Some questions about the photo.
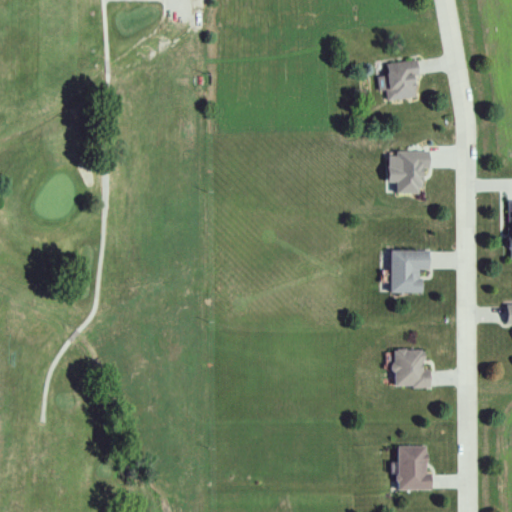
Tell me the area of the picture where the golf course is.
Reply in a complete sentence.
You can find the golf course in the left area of the picture.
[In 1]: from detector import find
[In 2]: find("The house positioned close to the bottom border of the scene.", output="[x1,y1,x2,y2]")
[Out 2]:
[391,446,432,490]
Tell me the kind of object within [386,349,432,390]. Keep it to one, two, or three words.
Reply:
house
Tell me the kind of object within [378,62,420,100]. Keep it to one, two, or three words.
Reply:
house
